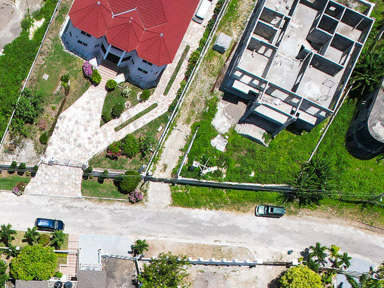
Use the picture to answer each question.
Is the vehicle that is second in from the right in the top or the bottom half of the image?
top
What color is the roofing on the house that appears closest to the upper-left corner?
red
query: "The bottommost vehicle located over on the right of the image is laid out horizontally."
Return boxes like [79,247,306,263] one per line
[254,203,286,219]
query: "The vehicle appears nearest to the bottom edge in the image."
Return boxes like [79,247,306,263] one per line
[35,217,65,233]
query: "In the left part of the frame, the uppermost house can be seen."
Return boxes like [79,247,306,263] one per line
[67,0,199,94]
